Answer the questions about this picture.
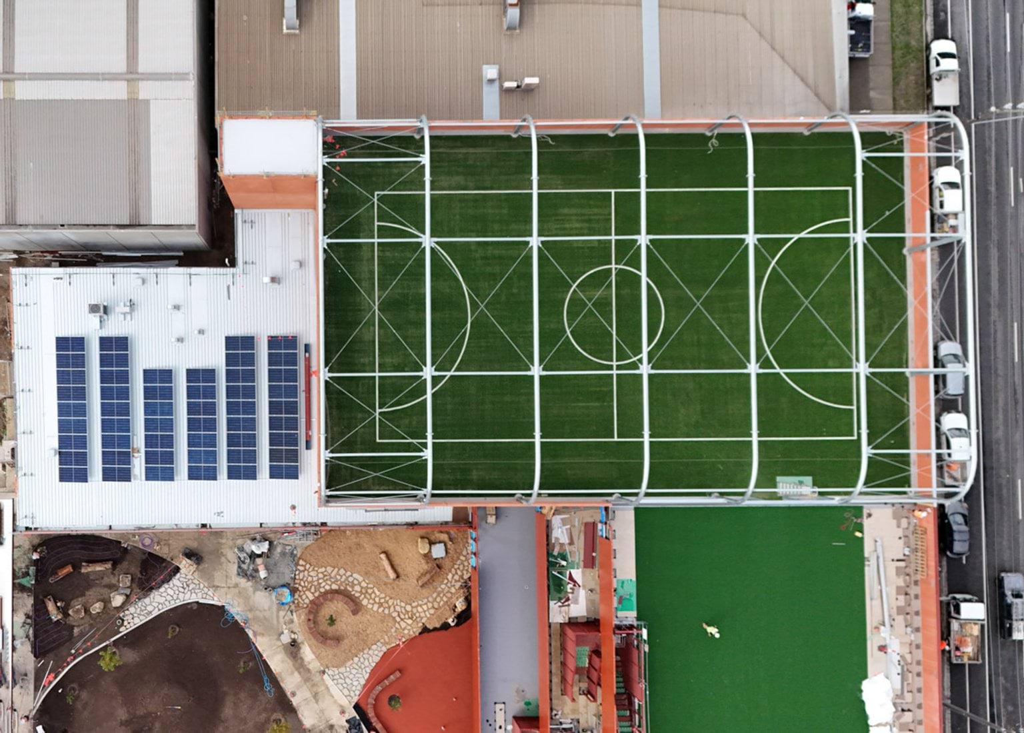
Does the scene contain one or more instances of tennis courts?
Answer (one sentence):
No, the picture doesn't show any tennis court.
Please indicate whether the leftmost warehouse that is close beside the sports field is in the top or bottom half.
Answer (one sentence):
The leftmost warehouse that is close beside the sports field is in the top half of the image.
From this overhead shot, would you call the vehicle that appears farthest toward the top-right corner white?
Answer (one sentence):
Yes, white is the color of the vehicle that appears farthest toward the top-right corner.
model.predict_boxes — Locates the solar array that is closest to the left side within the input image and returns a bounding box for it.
[57,337,89,481]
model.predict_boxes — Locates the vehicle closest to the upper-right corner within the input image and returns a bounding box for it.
[927,40,965,109]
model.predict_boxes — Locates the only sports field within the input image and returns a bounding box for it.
[325,132,911,496]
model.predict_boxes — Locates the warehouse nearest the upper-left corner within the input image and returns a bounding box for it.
[0,0,211,253]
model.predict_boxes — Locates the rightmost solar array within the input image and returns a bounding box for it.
[268,336,300,478]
